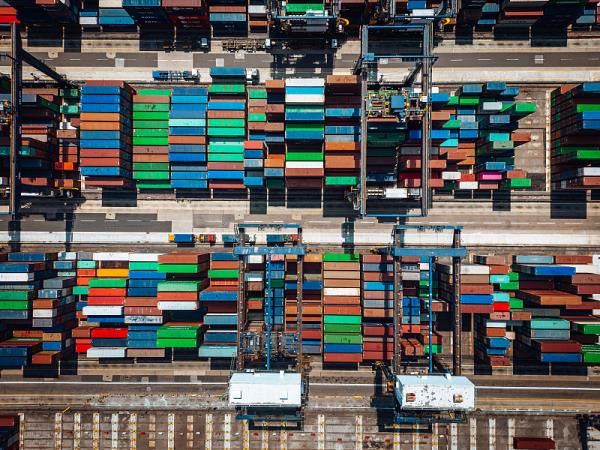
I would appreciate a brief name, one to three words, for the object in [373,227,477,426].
container crane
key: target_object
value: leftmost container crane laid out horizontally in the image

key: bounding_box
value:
[262,0,350,42]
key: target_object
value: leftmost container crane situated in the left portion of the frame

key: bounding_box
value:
[0,18,104,216]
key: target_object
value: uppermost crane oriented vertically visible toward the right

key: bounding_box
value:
[340,22,442,217]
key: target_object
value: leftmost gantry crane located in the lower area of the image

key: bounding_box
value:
[227,226,309,424]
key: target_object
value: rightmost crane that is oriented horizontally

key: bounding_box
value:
[368,0,462,42]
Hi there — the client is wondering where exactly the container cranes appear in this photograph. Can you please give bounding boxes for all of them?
[0,18,104,216]
[373,227,477,426]
[340,22,442,217]
[368,0,462,42]
[227,226,309,424]
[262,0,350,42]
